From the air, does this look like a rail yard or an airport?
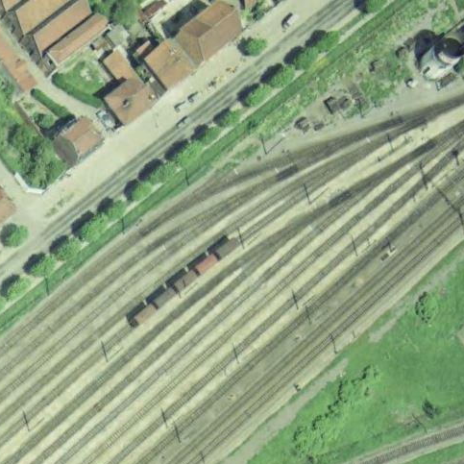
rail yard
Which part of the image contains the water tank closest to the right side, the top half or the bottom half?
top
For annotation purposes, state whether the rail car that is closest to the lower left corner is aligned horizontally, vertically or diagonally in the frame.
diagonally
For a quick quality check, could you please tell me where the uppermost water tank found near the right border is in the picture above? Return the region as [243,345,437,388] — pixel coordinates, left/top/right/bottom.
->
[418,37,464,84]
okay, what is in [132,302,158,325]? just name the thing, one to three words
rail car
